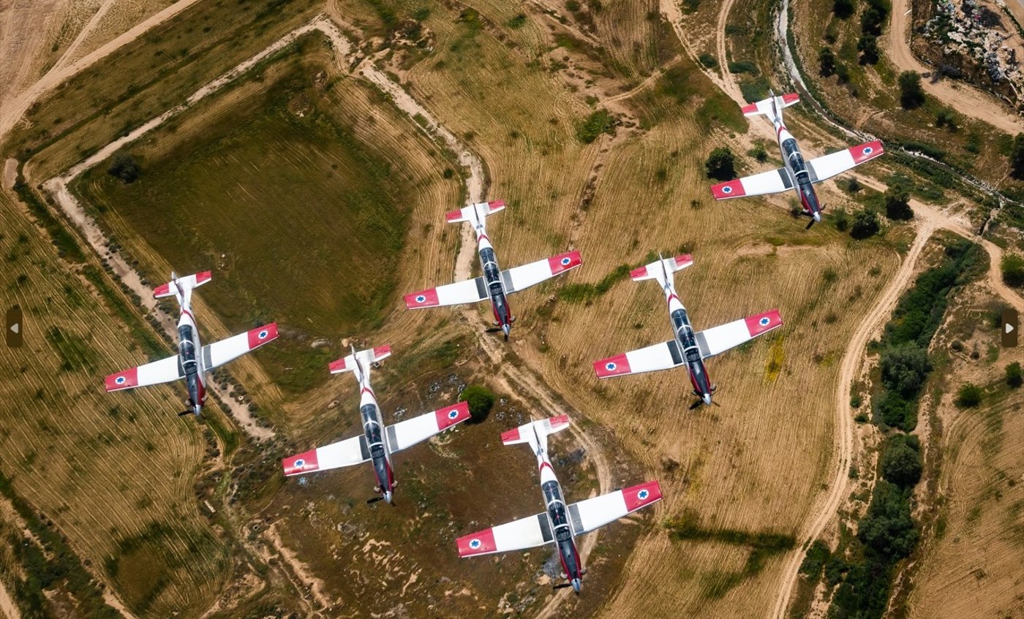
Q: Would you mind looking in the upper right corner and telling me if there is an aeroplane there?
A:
Yes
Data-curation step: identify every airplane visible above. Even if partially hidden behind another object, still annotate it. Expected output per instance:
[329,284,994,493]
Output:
[594,254,783,412]
[711,91,885,232]
[284,345,471,511]
[106,271,279,423]
[458,415,663,600]
[406,198,582,345]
